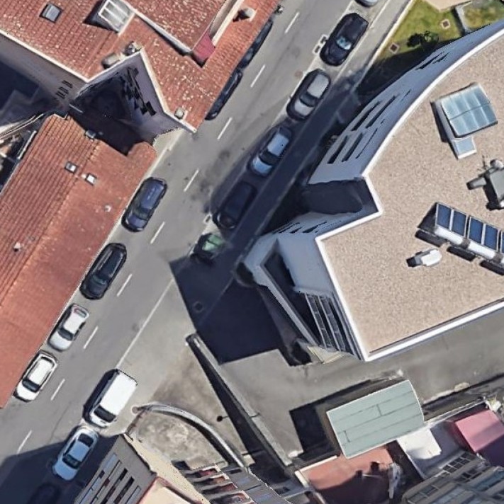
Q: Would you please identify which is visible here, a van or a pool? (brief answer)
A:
van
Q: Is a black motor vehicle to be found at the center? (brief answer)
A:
Yes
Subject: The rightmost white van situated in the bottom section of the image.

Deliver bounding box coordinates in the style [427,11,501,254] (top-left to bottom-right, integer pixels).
[90,369,137,424]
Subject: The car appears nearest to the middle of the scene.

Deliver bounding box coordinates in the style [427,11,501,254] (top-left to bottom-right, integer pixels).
[214,179,260,228]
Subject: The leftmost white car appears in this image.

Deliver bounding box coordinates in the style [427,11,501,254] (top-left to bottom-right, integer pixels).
[14,352,59,400]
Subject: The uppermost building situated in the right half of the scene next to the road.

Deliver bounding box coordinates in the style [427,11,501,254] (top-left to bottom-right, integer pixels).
[247,23,504,366]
